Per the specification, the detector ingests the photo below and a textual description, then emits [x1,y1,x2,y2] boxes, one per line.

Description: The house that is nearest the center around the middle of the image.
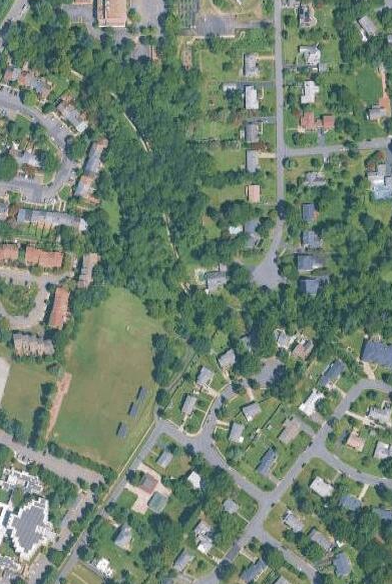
[204,265,227,290]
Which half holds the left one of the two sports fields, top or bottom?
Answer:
bottom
